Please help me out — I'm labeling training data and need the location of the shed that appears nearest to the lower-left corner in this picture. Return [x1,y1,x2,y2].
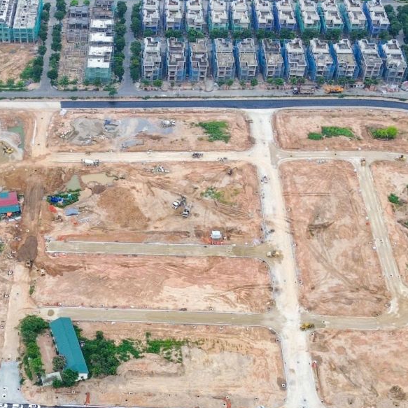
[53,316,90,378]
